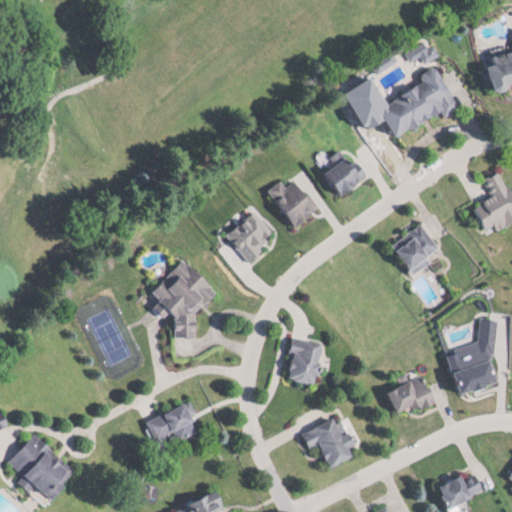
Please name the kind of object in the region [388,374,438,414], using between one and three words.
house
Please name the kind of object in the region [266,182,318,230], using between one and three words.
house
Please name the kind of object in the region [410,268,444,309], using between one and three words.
swimming pool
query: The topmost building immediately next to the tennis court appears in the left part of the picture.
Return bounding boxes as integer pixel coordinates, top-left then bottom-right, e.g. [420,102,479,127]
[154,260,218,338]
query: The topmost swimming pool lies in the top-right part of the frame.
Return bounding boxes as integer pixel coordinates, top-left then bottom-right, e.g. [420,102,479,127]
[474,13,512,54]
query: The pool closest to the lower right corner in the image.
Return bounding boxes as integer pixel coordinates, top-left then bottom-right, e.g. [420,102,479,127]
[442,320,474,350]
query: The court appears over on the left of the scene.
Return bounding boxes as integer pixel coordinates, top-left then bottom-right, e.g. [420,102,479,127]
[76,295,144,379]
